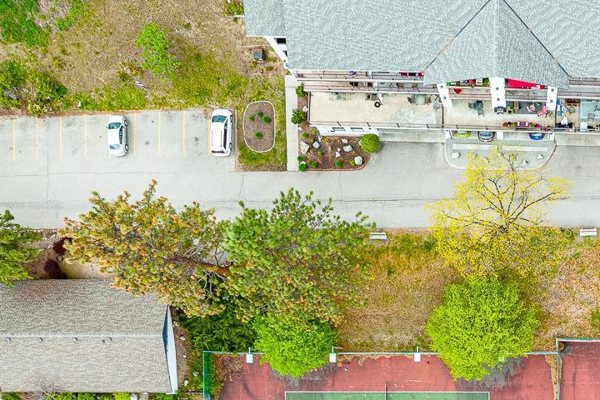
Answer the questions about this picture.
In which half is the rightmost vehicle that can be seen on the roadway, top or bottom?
top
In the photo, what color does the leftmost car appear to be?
white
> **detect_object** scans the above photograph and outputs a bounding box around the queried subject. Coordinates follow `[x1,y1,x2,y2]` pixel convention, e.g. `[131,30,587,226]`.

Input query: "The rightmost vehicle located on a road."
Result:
[209,109,233,155]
